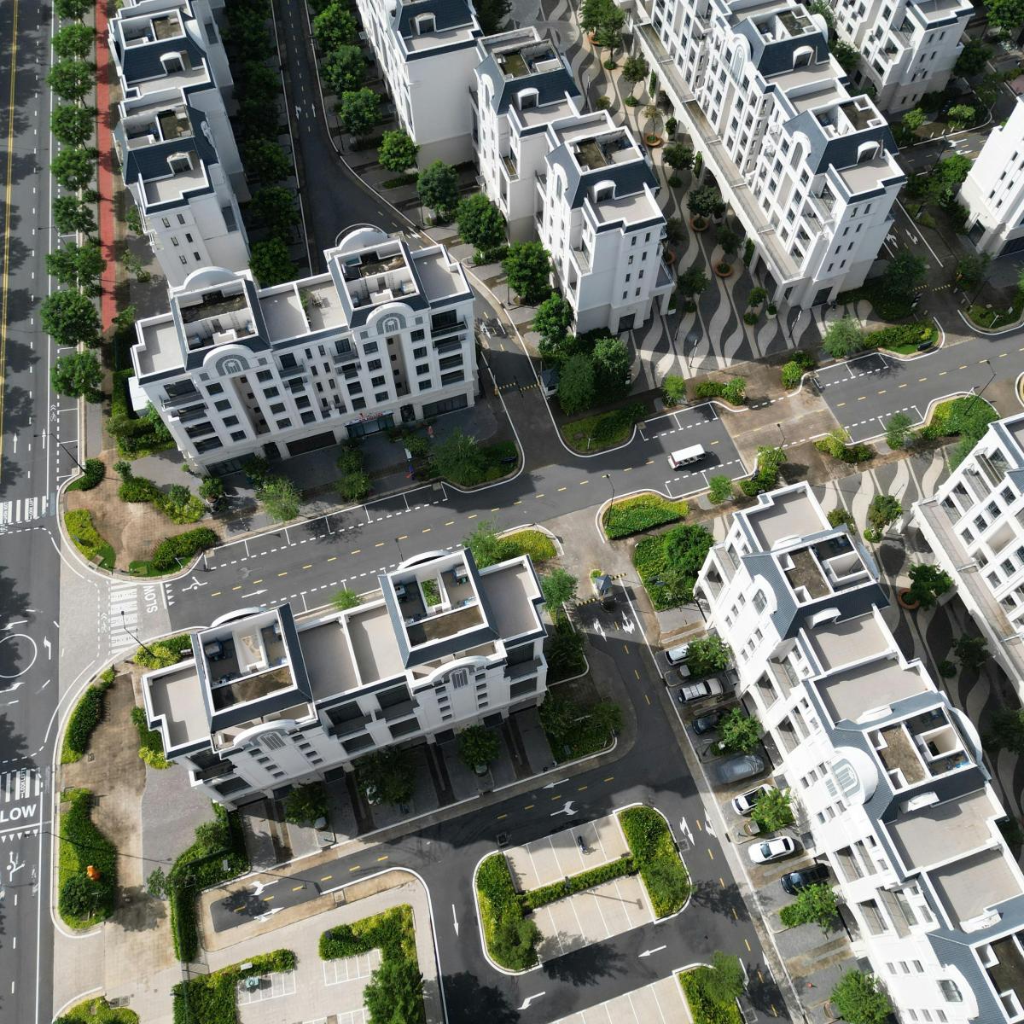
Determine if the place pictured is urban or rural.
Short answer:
urban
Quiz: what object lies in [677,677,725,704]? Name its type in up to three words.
car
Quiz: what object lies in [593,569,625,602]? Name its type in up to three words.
shed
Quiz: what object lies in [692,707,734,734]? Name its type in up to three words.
car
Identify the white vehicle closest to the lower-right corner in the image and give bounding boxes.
[746,835,799,863]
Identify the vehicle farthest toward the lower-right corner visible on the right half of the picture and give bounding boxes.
[778,863,829,895]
